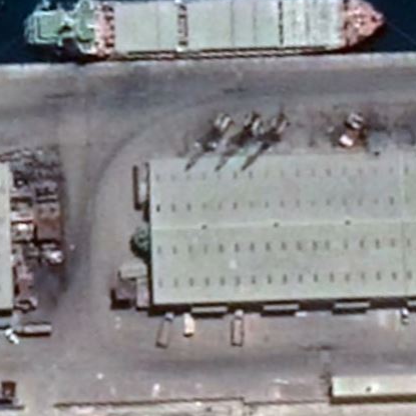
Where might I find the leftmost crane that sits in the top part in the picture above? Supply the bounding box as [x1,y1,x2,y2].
[192,112,231,156]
